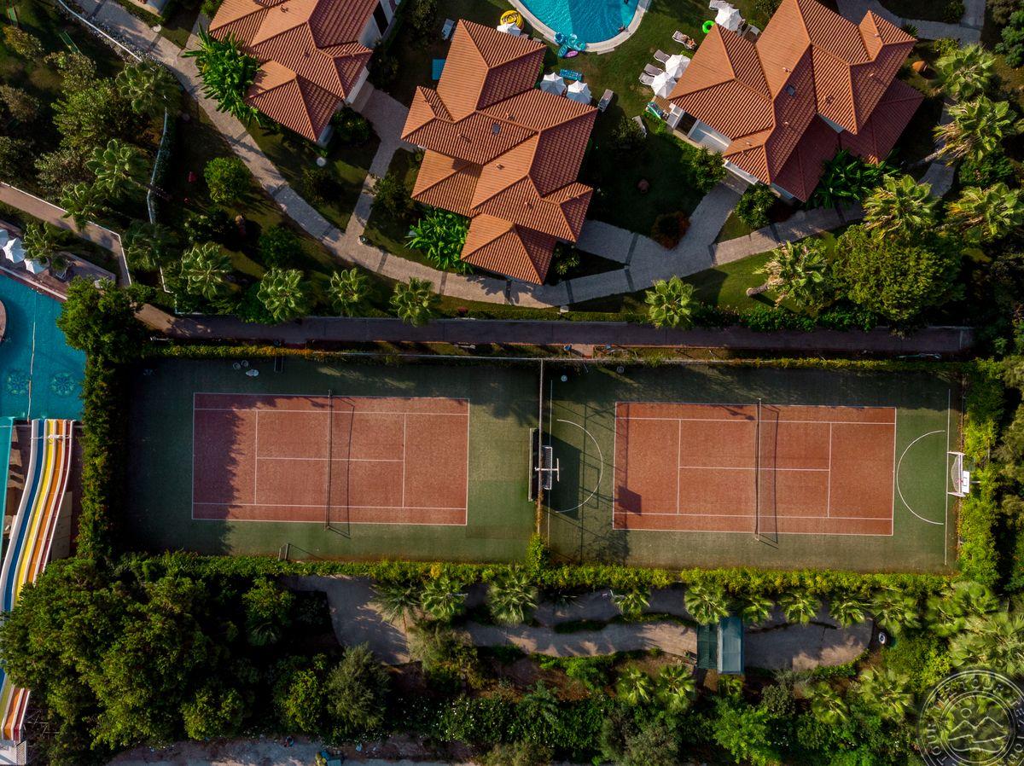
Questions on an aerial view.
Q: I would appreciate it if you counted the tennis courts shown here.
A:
2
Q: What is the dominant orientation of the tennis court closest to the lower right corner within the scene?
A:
from left to right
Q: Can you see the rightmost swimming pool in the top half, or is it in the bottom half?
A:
top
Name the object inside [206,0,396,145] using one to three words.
house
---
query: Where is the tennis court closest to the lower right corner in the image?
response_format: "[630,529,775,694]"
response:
[548,380,950,566]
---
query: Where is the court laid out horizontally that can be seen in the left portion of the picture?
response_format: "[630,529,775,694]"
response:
[192,392,469,526]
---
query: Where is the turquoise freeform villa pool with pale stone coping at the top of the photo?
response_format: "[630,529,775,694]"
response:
[512,0,650,55]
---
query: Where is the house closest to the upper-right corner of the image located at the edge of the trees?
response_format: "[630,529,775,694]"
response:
[668,0,926,219]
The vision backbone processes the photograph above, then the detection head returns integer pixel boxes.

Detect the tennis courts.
[192,392,469,526]
[548,380,950,566]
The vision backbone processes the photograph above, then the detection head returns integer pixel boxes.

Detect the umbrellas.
[5,237,28,265]
[0,224,16,251]
[712,5,742,32]
[540,70,568,97]
[661,53,689,83]
[563,78,593,105]
[25,256,56,277]
[647,71,677,102]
